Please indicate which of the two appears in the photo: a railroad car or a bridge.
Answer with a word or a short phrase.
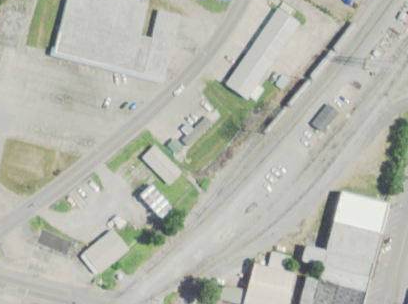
railroad car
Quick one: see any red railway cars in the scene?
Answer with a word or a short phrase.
No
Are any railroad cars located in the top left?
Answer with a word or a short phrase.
No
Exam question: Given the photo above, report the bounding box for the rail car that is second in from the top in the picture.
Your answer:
[308,52,334,80]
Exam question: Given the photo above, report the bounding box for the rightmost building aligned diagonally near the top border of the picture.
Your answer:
[224,2,300,102]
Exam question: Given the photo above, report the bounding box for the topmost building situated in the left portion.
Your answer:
[52,0,179,82]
